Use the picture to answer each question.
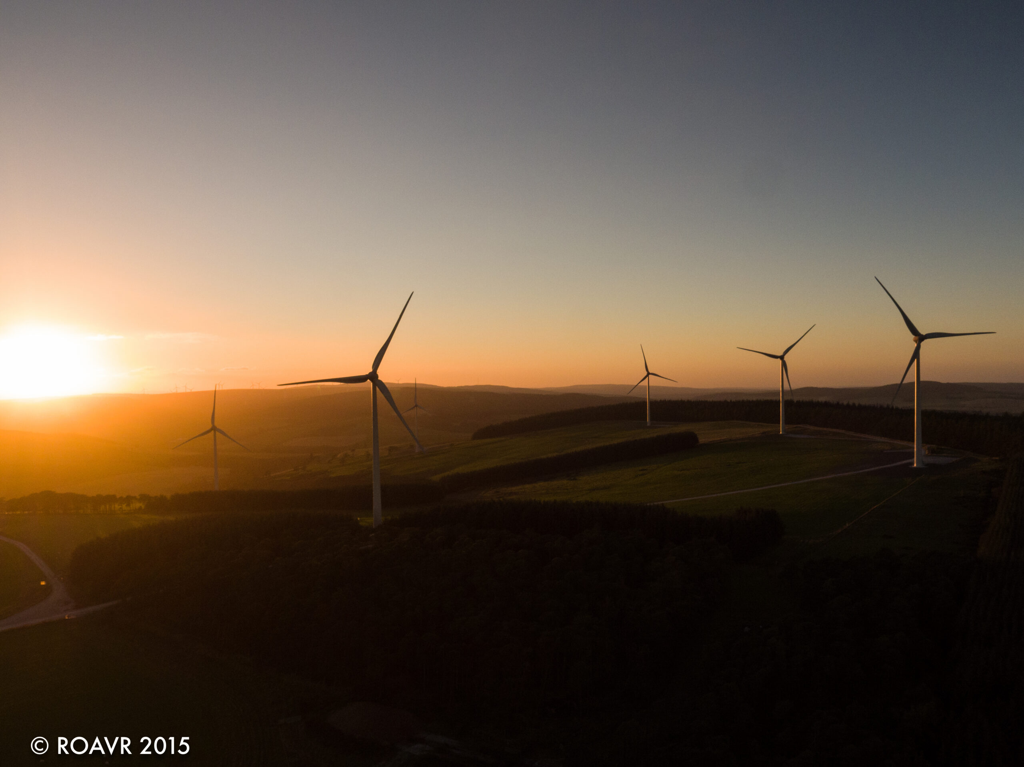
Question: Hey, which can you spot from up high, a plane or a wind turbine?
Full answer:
There is a wind turbine in the scene.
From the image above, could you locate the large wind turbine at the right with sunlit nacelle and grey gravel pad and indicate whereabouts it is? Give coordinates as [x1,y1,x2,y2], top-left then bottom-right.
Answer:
[880,276,999,469]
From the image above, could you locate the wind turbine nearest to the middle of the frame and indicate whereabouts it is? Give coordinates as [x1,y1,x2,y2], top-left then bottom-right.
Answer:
[391,378,438,448]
